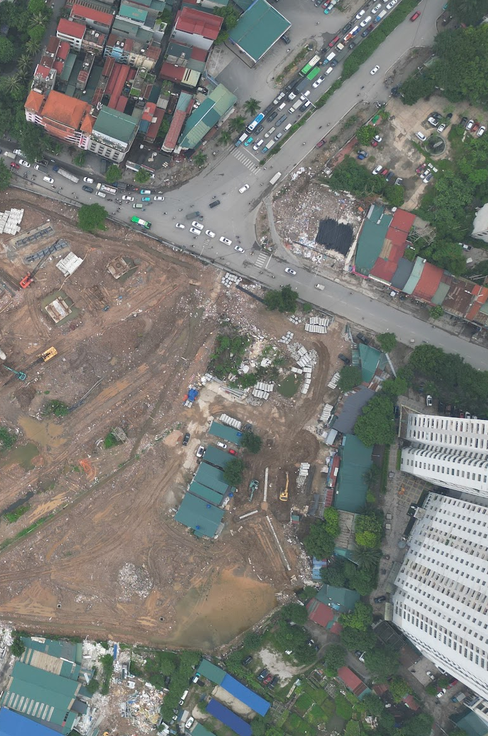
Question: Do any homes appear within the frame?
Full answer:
Yes, there's a home down there.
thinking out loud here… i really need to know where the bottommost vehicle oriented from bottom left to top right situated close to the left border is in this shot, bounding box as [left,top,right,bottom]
[21,345,61,376]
